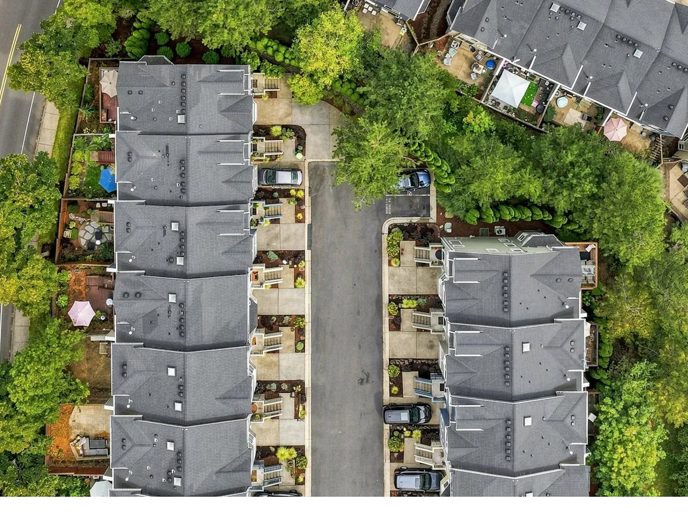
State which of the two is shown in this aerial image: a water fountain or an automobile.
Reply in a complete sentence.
The image shows an automobile.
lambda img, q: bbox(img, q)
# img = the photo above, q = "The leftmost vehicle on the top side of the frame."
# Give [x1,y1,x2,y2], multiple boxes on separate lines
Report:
[261,167,304,188]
